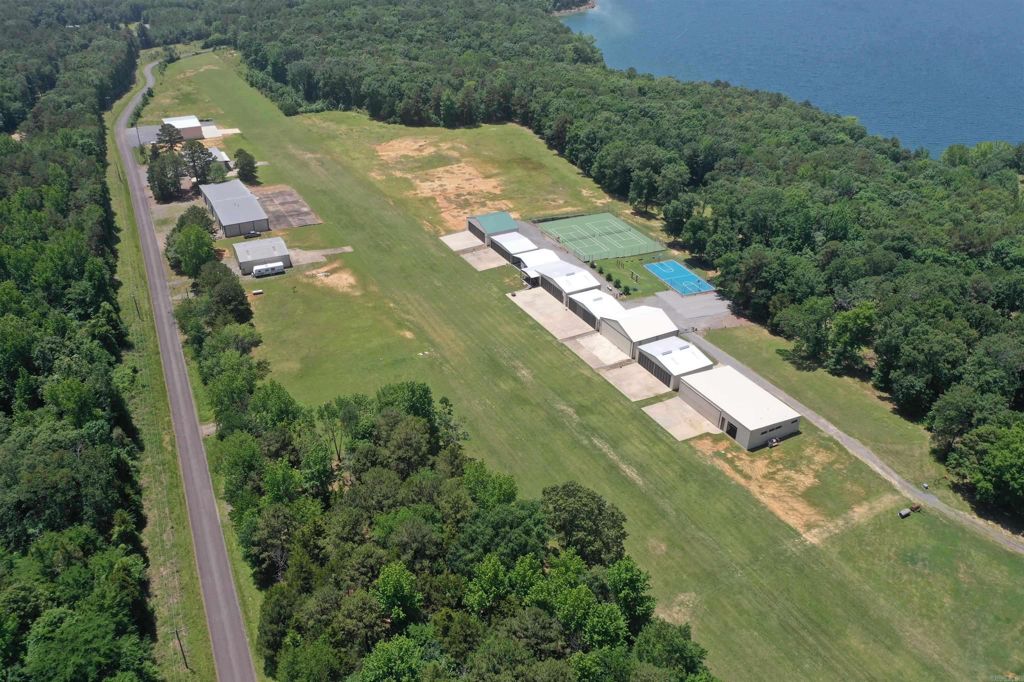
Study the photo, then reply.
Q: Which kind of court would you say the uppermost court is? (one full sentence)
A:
From above, the uppermost court can be identified as a tennis court.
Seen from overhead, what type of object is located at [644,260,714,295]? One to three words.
basketball court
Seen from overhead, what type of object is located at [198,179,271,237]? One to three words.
hangar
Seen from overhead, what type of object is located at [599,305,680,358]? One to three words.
hangar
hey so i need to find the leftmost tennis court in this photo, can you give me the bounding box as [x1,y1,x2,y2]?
[534,212,667,262]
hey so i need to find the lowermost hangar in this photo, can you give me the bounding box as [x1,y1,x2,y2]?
[679,365,804,450]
